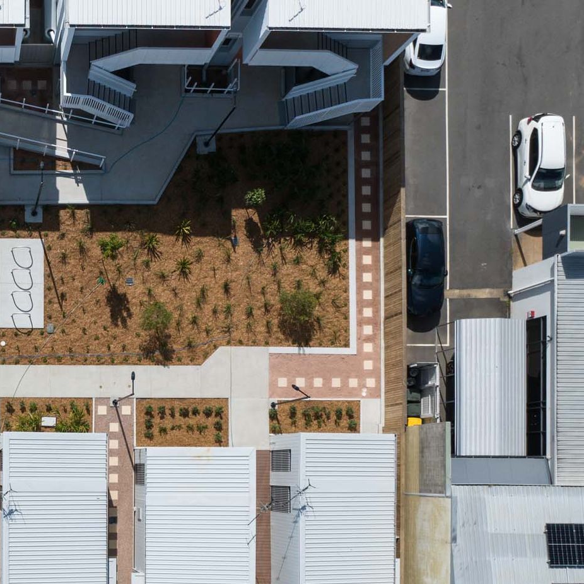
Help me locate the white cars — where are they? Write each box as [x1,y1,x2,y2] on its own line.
[415,0,449,73]
[513,111,572,213]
